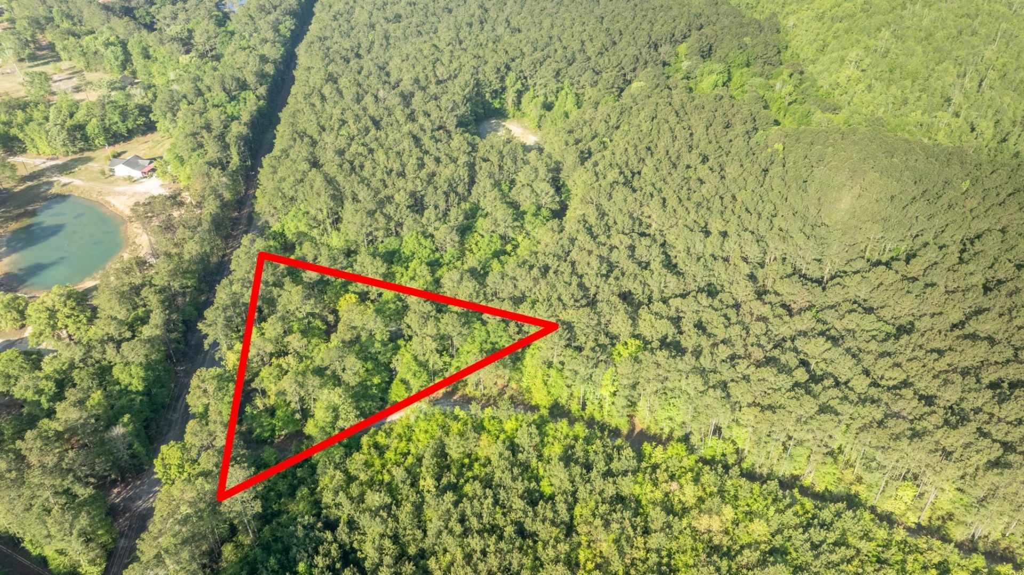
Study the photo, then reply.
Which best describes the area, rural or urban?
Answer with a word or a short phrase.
rural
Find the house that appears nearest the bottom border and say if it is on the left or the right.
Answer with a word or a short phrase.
left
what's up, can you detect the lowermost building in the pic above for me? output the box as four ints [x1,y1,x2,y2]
[110,148,165,177]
